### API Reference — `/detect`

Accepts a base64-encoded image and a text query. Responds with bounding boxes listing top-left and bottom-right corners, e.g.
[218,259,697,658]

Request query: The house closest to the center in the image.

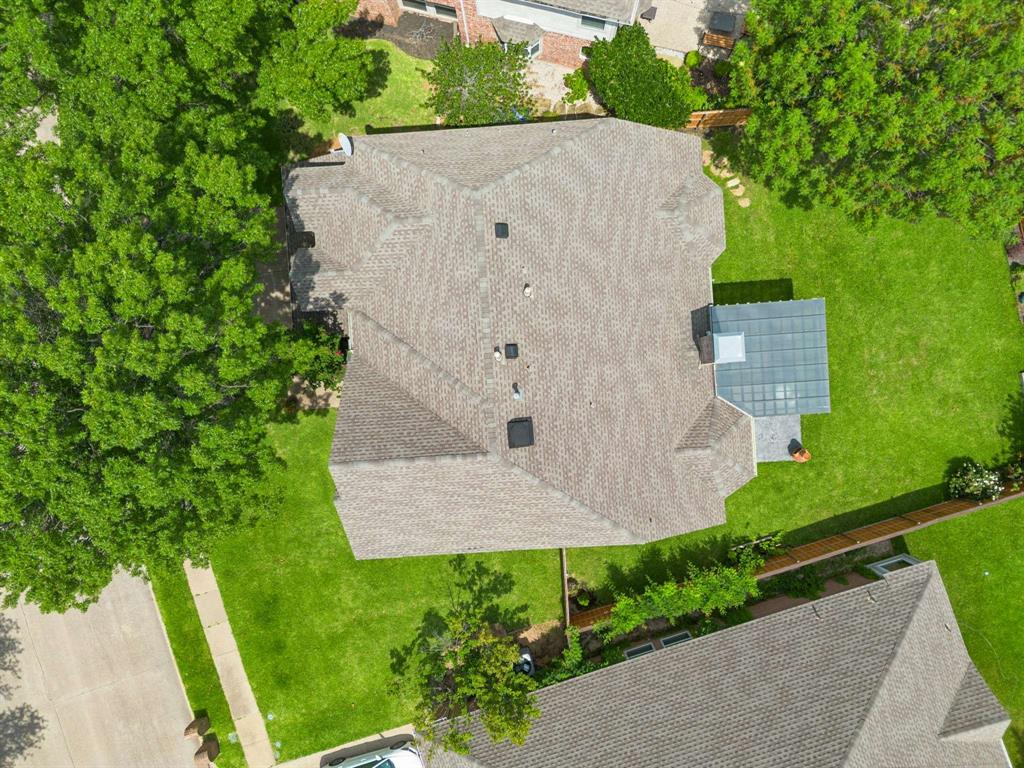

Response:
[282,116,758,558]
